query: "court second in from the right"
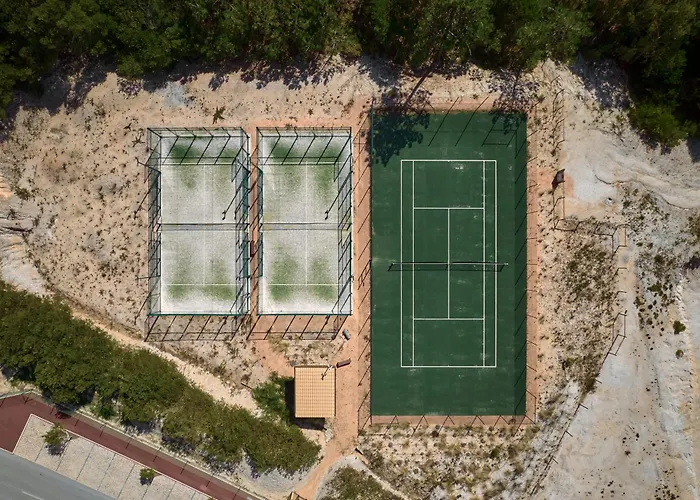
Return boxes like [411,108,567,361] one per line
[255,127,353,317]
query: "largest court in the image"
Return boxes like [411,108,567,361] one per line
[362,109,537,425]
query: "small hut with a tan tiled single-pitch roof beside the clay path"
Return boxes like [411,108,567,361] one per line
[295,365,336,417]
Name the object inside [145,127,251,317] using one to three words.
sports court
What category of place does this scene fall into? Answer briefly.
sports ground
